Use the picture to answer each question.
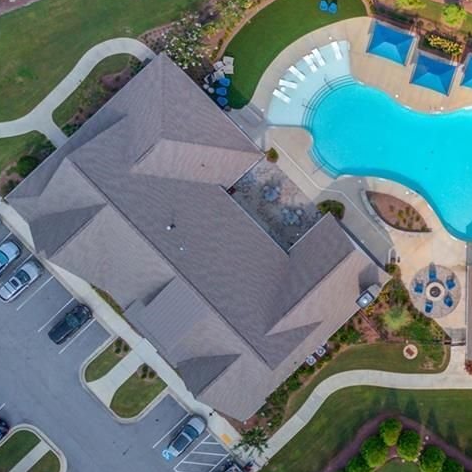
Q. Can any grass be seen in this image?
Yes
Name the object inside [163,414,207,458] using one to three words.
car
